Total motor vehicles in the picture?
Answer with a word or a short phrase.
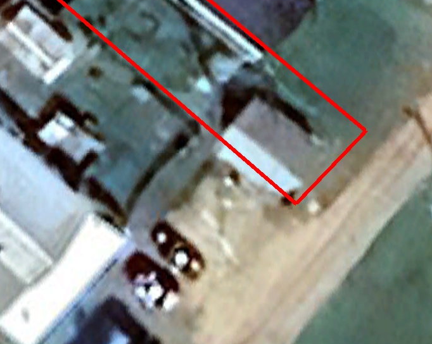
two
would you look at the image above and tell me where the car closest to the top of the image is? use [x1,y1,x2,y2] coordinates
[145,218,208,281]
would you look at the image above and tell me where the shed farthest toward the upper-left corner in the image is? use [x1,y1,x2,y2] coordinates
[0,4,77,84]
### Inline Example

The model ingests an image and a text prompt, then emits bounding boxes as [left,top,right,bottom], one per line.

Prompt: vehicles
[145,218,208,281]
[117,247,185,316]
